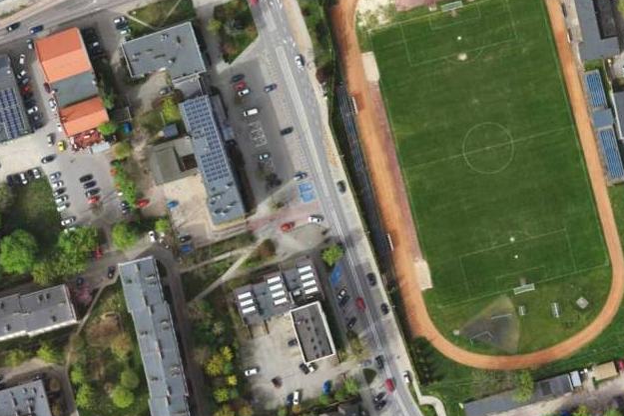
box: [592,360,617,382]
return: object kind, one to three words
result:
shed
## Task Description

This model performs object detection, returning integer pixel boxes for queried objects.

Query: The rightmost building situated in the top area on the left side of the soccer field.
[177,94,246,228]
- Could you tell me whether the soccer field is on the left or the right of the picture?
right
